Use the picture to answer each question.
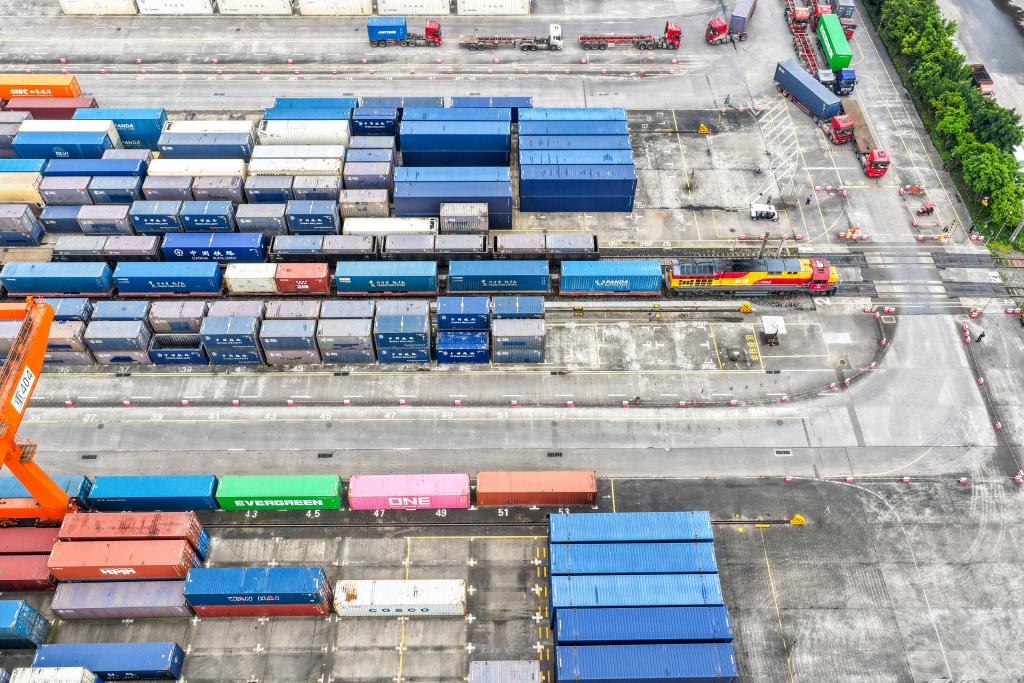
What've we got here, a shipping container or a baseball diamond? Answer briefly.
shipping container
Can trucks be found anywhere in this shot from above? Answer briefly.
Yes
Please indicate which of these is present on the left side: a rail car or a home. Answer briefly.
rail car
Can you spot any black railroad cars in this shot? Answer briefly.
Yes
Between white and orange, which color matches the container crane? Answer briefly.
orange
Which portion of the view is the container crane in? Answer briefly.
left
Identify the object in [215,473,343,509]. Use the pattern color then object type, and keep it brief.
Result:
green shipping container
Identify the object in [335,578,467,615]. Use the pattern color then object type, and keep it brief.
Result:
white shipping container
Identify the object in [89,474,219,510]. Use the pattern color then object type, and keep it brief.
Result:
blue shipping container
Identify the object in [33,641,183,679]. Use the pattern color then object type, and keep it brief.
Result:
blue shipping container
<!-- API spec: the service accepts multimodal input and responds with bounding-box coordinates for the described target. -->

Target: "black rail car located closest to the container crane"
[52,237,165,267]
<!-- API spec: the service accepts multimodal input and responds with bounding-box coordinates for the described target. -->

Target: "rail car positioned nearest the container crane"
[3,280,117,297]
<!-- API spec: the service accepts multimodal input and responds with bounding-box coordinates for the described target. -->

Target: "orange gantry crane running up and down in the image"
[0,301,75,527]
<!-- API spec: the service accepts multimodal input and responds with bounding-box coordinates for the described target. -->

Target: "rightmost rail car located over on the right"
[660,260,837,295]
